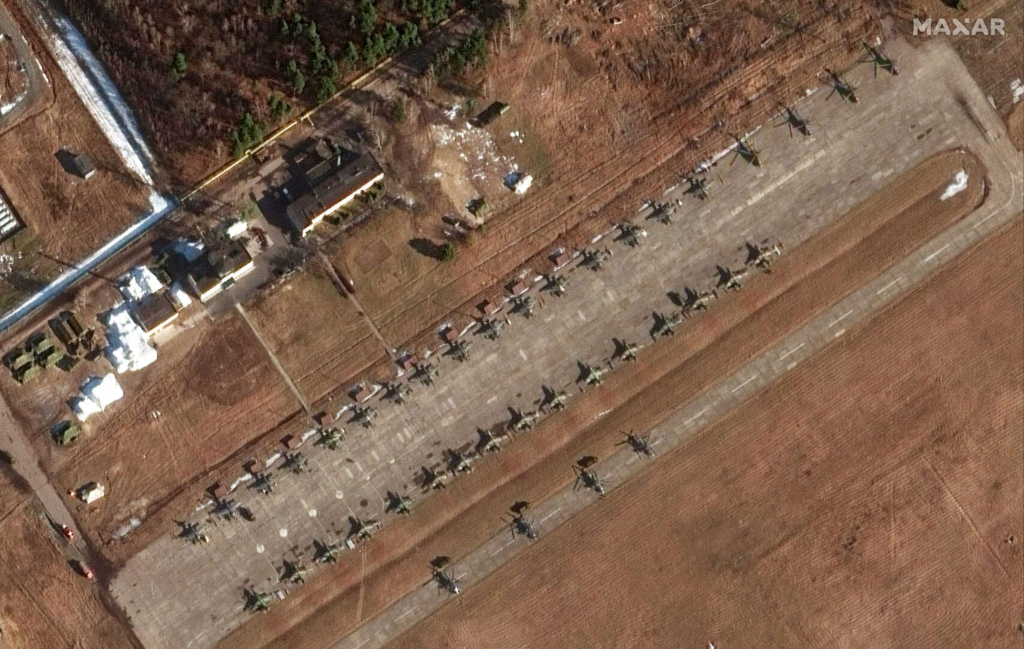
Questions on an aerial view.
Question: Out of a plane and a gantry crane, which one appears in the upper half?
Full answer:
The one visible in the upper half is a plane.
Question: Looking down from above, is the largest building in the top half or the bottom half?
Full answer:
It is in the top half that the largest building appears.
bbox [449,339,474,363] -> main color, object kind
gray airplane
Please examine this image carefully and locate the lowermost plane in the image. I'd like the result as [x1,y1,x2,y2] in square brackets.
[248,588,275,612]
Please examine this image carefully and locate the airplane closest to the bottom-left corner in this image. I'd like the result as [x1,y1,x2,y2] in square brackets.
[183,521,209,546]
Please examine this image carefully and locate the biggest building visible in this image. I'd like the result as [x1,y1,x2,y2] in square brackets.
[285,152,386,237]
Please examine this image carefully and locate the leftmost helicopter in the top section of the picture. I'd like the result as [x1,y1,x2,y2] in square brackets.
[732,135,774,170]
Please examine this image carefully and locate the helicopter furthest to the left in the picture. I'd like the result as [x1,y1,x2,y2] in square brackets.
[433,564,468,595]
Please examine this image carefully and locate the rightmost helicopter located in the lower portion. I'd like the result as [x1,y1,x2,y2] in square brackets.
[629,429,663,461]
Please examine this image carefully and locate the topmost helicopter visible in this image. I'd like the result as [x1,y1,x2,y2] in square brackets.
[864,44,905,80]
